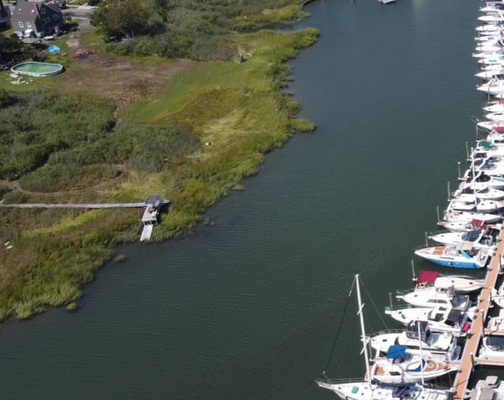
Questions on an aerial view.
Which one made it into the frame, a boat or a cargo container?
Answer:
boat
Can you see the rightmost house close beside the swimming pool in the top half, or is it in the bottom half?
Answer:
top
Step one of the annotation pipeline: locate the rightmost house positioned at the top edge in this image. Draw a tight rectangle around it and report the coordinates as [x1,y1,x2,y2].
[10,0,67,38]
